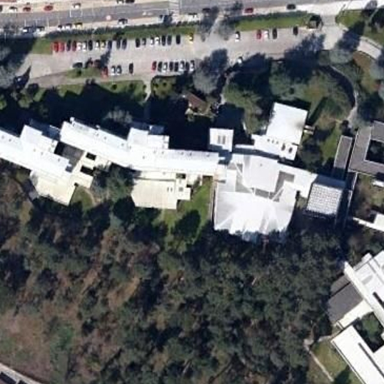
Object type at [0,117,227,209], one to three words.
building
